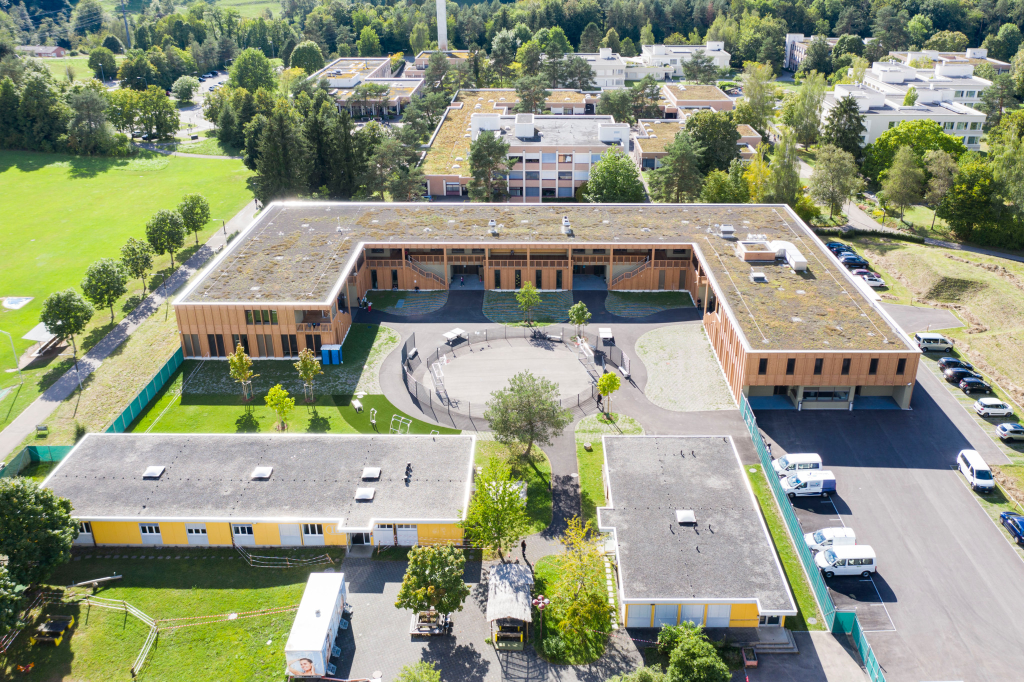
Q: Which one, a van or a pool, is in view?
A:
van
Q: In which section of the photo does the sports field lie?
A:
left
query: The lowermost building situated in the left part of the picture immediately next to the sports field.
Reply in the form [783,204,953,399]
[32,434,475,572]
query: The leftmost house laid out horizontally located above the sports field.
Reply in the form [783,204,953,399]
[10,49,74,65]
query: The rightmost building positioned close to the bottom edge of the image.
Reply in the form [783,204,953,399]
[599,436,811,656]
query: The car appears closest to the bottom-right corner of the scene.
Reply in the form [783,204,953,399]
[994,506,1024,541]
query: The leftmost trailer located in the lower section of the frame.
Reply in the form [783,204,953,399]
[284,571,354,681]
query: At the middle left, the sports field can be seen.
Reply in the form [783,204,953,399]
[0,150,256,400]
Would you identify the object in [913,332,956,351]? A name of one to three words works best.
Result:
vehicle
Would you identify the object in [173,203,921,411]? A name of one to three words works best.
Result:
building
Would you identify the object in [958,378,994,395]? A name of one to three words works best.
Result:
car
